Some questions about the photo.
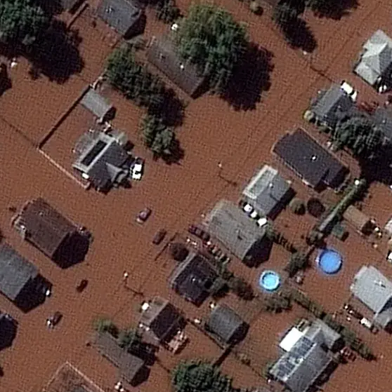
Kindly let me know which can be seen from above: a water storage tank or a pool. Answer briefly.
pool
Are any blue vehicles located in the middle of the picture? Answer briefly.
No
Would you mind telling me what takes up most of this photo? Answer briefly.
water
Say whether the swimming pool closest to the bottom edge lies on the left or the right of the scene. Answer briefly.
right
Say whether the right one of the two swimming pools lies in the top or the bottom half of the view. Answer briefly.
bottom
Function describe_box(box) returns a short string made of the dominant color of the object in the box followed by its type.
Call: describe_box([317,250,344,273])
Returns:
blue swimming pool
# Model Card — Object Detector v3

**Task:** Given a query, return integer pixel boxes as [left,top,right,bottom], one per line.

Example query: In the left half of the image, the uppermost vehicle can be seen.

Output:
[130,160,143,181]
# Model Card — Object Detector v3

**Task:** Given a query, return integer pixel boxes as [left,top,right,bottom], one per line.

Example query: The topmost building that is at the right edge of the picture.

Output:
[354,30,392,87]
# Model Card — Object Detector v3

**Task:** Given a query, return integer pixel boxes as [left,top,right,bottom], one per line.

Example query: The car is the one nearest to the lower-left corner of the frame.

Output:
[46,309,65,328]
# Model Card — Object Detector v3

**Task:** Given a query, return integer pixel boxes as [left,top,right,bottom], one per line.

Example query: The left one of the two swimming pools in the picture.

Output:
[259,270,282,291]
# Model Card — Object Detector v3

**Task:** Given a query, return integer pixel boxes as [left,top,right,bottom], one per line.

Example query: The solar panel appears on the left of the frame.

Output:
[80,142,107,168]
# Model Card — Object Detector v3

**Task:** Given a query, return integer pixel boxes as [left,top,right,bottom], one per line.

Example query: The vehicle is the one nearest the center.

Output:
[189,226,209,242]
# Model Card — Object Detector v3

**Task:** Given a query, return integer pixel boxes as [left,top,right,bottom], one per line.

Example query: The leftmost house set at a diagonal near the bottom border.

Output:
[89,332,147,381]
